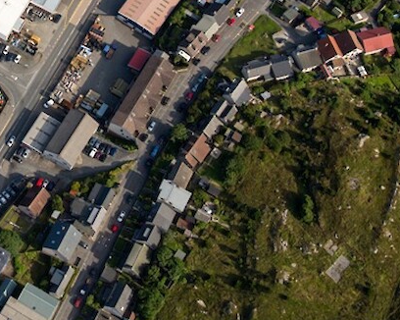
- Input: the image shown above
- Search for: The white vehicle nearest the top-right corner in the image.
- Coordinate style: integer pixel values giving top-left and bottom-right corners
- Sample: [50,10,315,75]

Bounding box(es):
[356,63,368,79]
